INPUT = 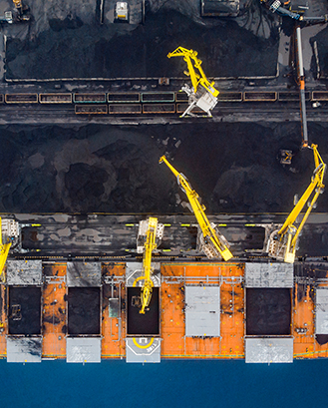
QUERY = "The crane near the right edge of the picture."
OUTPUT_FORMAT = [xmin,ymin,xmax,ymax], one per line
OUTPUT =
[247,144,327,262]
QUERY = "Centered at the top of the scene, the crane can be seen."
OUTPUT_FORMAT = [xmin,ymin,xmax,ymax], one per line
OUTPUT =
[164,45,224,119]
